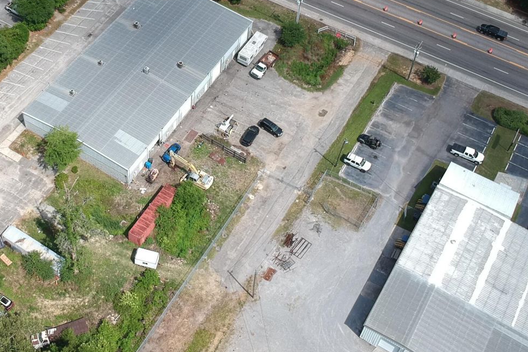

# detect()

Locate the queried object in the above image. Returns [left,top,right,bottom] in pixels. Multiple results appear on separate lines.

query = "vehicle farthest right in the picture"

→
[478,24,507,41]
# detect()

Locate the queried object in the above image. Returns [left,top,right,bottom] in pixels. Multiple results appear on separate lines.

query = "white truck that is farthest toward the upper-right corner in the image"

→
[450,142,484,165]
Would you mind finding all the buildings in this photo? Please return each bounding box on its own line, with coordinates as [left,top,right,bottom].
[22,0,253,183]
[360,185,528,352]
